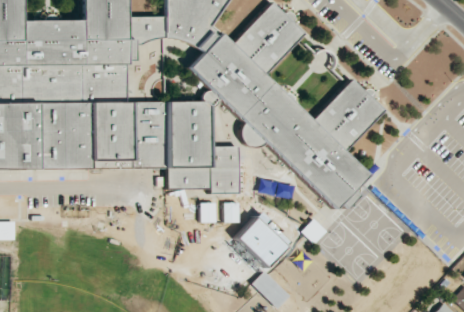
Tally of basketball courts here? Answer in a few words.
2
